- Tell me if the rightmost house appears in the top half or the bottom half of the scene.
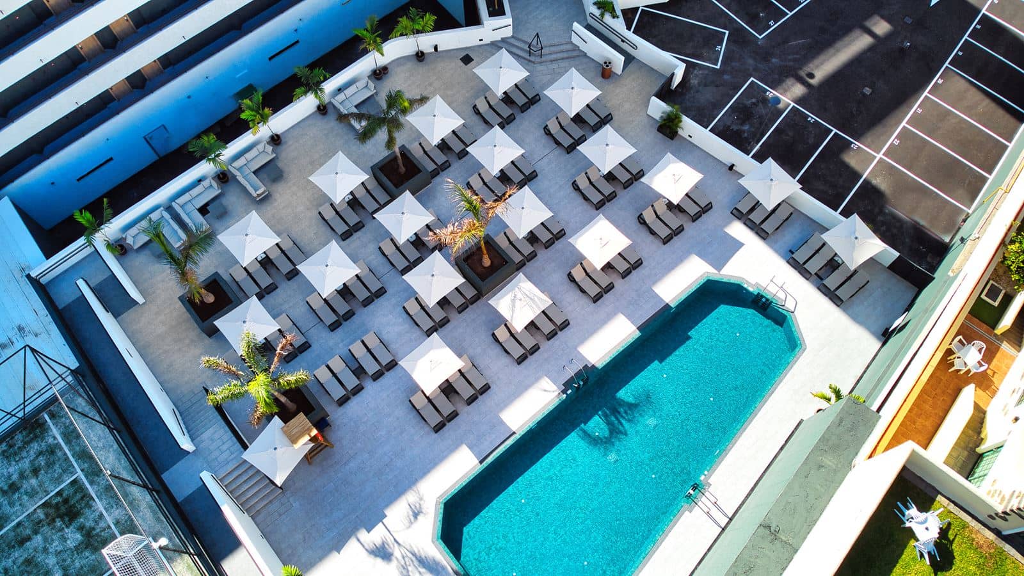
bottom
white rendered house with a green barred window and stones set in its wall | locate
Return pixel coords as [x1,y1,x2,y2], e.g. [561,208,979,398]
[968,416,1024,527]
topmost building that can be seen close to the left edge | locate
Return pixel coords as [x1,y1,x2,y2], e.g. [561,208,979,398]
[0,0,401,235]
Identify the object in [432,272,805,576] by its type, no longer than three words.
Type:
swimming pool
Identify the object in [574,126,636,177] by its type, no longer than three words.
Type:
umbrella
